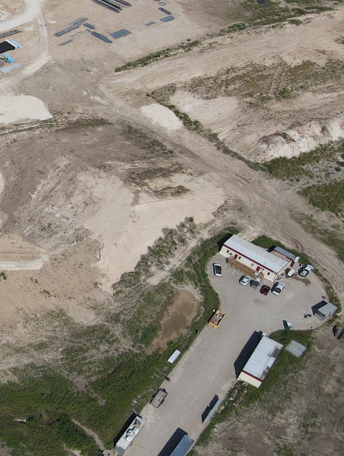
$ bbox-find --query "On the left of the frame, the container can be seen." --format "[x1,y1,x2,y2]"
[116,415,149,455]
